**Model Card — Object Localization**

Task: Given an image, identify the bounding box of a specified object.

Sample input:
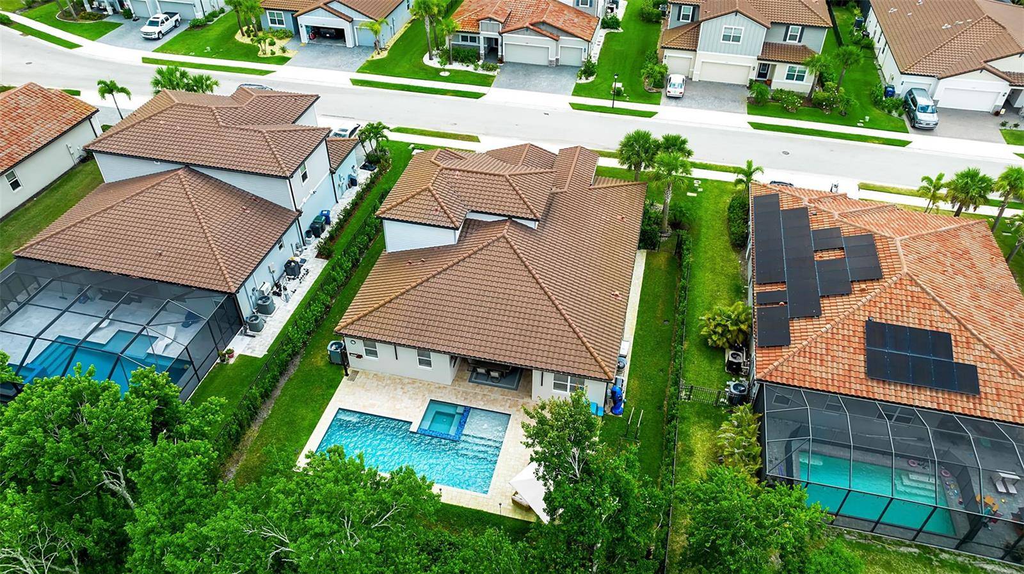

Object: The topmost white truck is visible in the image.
[135,10,182,39]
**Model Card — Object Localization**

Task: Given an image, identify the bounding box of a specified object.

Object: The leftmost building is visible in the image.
[0,78,108,220]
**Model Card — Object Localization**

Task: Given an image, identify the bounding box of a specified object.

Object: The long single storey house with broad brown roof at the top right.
[866,0,1024,112]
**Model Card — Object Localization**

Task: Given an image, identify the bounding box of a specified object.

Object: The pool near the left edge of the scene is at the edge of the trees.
[0,313,188,425]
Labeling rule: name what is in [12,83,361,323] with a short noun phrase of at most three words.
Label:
house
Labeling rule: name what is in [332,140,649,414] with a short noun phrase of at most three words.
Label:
house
